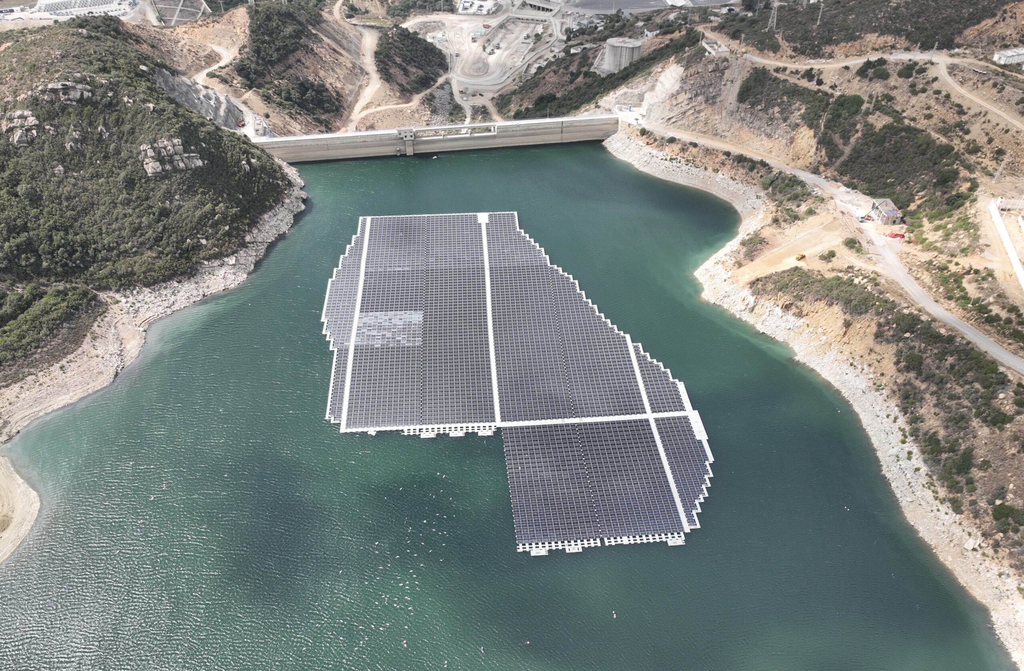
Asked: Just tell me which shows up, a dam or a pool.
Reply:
dam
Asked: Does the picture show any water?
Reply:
Yes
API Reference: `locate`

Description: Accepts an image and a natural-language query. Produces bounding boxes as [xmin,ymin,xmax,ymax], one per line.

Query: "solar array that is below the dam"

[320,211,713,555]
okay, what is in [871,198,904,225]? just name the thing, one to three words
building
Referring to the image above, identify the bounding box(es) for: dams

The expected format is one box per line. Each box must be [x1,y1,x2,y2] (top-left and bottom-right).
[247,108,628,162]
